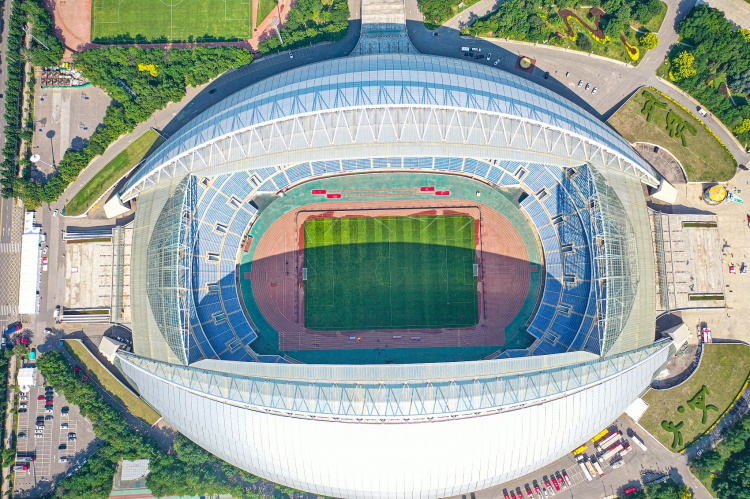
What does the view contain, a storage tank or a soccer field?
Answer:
soccer field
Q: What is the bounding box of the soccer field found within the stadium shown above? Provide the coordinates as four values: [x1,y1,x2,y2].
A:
[304,215,479,330]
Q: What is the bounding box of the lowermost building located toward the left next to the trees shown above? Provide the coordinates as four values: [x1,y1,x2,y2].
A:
[122,459,152,480]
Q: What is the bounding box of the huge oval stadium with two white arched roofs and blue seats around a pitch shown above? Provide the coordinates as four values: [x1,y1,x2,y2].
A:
[99,51,691,499]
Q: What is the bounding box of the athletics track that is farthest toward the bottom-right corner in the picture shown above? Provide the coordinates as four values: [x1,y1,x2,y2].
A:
[237,171,544,365]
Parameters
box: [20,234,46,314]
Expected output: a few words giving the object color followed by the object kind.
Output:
white tent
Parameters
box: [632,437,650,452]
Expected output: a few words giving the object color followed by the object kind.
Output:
white vehicle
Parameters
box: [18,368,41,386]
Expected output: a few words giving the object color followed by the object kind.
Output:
white tent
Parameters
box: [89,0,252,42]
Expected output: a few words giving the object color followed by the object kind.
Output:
green soccer field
